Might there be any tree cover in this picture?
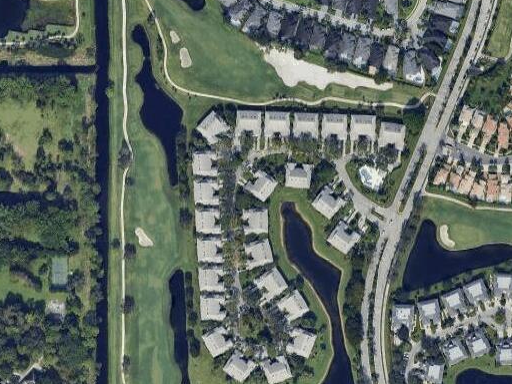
Yes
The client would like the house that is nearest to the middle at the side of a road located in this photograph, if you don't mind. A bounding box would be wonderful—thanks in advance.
[244,169,277,203]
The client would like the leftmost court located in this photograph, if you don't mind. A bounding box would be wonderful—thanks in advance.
[51,256,66,285]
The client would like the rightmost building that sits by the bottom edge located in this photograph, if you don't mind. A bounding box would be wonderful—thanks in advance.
[496,340,512,365]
